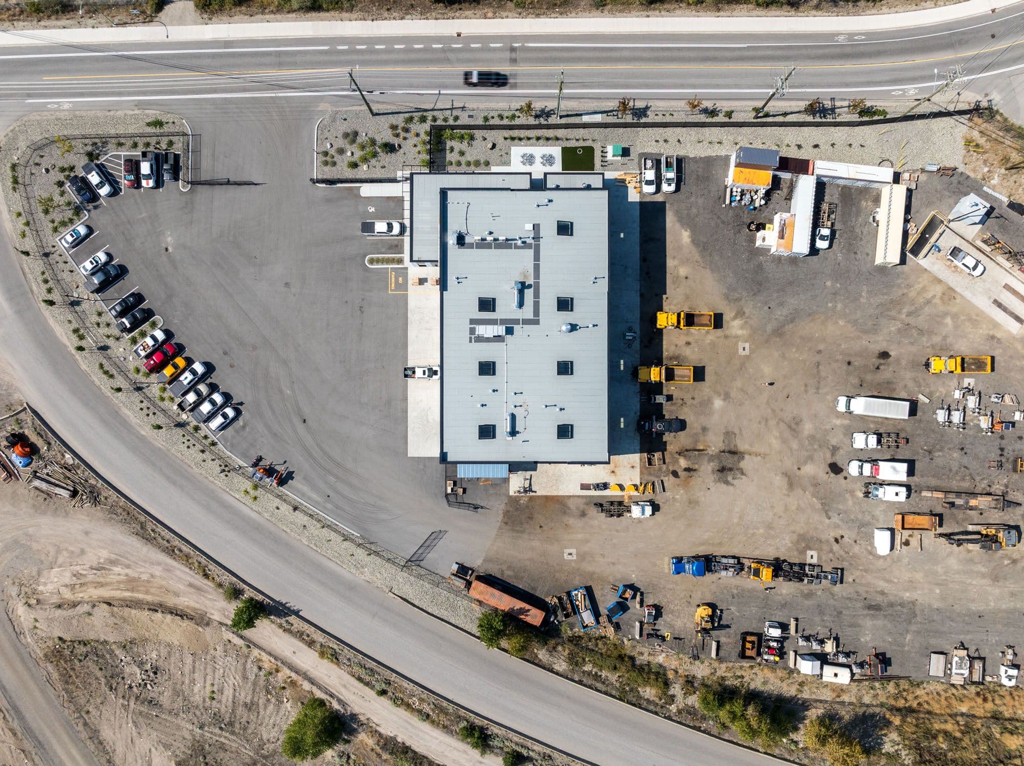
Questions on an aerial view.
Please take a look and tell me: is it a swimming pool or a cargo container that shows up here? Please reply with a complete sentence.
Looking from above, you can make out a cargo container.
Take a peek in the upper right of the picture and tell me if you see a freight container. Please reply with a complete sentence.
Yes, a freight container is visible in the upper right of the picture.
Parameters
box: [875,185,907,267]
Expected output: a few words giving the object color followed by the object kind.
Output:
white shipping container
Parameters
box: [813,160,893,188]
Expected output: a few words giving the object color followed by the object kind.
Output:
white shipping container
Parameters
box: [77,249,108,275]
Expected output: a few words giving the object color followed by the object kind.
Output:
white car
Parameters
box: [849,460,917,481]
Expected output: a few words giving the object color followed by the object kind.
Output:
white truck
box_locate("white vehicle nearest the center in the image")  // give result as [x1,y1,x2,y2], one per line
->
[403,365,440,380]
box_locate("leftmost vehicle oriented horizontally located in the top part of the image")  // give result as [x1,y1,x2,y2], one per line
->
[361,219,400,235]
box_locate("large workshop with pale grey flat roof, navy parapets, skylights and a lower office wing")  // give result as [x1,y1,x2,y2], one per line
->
[403,165,611,478]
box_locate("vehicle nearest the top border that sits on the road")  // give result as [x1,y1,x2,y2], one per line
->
[466,67,507,85]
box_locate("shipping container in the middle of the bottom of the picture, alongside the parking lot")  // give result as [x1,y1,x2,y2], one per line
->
[470,575,547,627]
